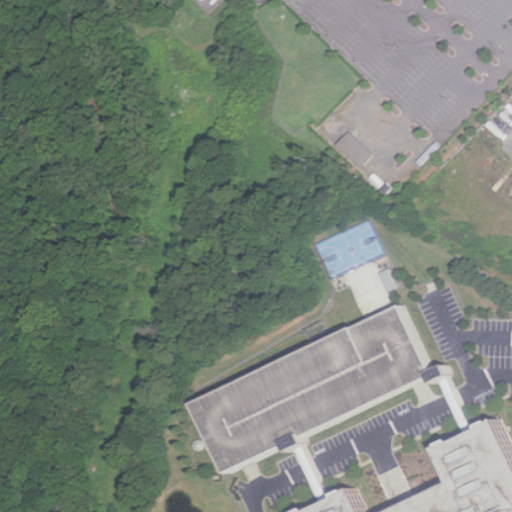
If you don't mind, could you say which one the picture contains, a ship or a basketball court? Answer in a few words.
basketball court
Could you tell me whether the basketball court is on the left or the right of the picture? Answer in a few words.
right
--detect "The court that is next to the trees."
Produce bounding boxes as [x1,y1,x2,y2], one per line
[316,220,384,278]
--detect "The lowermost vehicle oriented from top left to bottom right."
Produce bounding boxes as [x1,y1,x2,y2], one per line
[368,174,390,192]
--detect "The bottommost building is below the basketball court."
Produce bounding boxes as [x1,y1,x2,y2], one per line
[294,418,512,512]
